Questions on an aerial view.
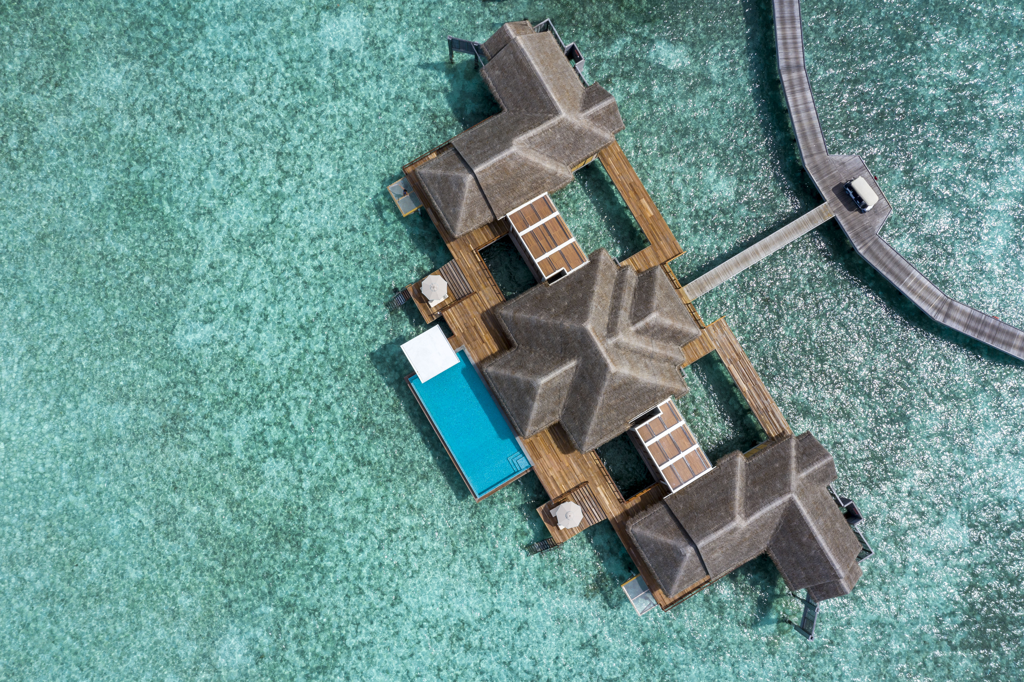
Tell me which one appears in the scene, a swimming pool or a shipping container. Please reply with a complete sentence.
This aerial view contains a swimming pool.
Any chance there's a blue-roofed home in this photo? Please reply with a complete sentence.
No, I can't see a single blue-roofed home in this photo.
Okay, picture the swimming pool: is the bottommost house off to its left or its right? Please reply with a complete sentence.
The swimming pool has the bottommost house on its right side.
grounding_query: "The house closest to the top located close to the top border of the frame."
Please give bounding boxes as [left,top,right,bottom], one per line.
[416,19,625,239]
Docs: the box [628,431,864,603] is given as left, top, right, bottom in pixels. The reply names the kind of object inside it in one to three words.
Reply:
house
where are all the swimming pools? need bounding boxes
[404,342,535,503]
